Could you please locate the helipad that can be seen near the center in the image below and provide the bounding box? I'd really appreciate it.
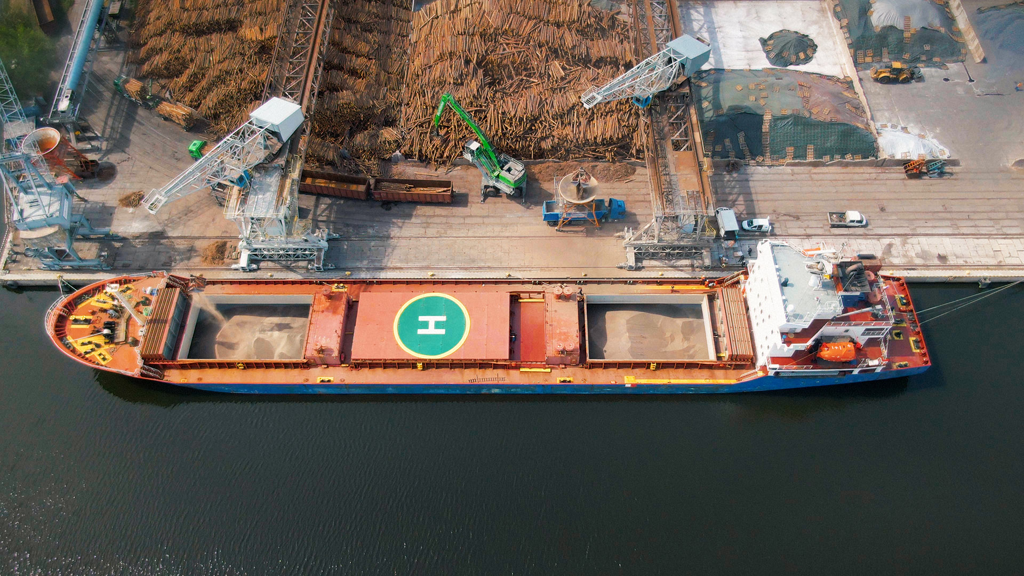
[394,293,470,360]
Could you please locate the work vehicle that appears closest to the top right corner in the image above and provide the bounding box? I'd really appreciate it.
[875,64,927,89]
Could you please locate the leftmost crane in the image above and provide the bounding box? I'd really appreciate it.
[0,79,125,268]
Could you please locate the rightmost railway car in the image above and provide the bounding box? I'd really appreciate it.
[369,178,458,205]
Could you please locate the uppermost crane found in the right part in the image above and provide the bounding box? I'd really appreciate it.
[566,0,725,268]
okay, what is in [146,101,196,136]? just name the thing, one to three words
trailer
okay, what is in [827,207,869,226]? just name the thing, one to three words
vehicle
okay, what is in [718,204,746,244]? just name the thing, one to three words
truck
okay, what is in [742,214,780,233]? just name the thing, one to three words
vehicle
